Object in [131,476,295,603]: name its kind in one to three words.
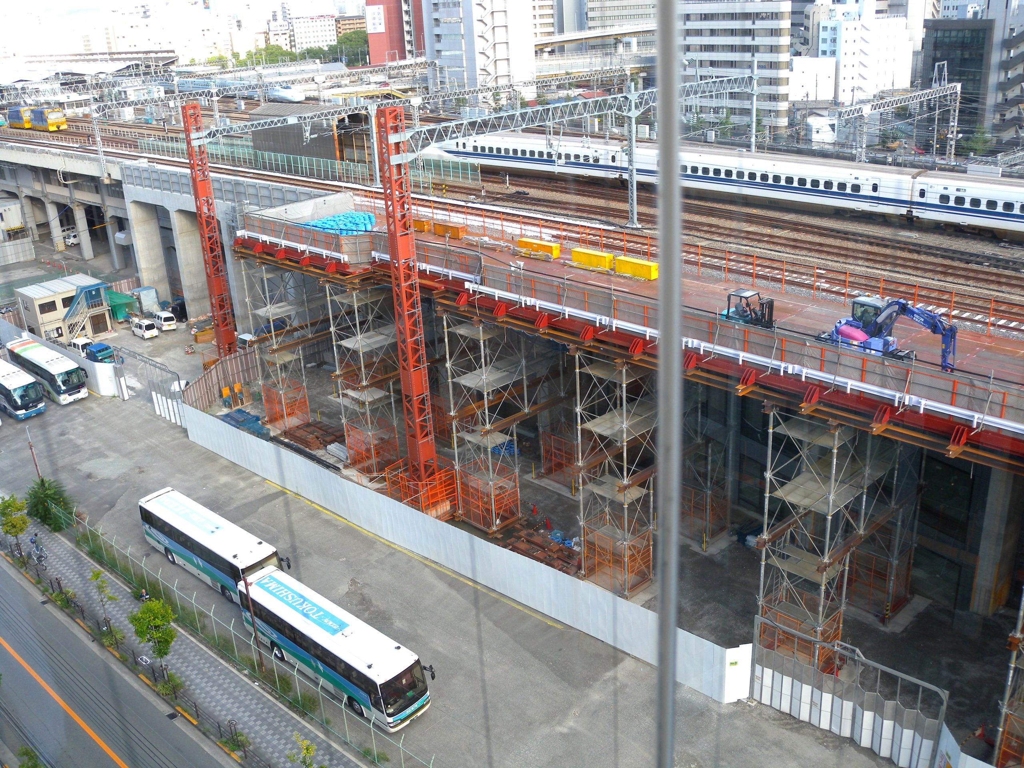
bus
